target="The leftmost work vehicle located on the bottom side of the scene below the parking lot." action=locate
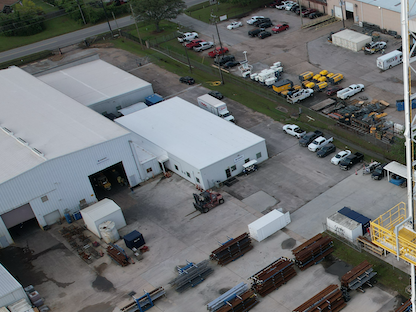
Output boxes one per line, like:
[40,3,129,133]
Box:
[188,191,221,213]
